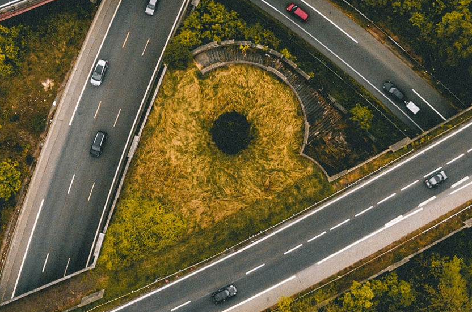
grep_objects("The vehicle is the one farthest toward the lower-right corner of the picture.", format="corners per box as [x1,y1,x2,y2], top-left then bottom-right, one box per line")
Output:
[423,169,449,189]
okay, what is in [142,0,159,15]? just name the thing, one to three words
car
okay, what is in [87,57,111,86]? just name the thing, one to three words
car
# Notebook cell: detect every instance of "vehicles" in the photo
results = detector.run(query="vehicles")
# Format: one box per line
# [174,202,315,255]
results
[88,129,108,157]
[423,169,449,189]
[286,2,311,23]
[210,285,237,306]
[142,0,159,15]
[87,57,111,86]
[382,79,408,102]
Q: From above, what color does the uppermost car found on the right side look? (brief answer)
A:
red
